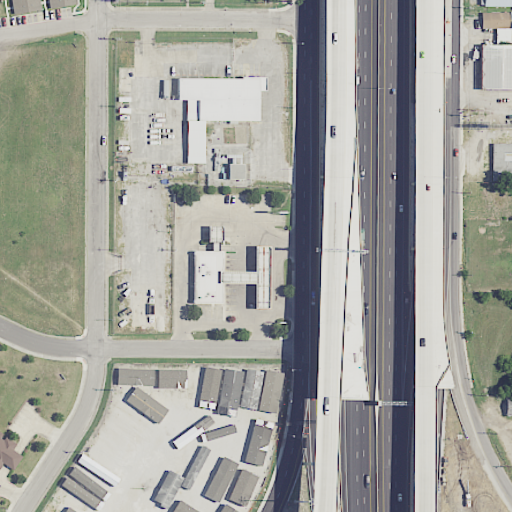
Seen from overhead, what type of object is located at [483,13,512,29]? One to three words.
shed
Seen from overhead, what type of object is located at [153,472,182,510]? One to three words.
house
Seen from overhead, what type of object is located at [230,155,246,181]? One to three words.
building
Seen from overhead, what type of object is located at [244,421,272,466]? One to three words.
house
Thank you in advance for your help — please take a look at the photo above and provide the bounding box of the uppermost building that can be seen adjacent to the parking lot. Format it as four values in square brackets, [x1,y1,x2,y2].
[178,78,267,163]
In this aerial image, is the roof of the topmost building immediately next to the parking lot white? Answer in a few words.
Yes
